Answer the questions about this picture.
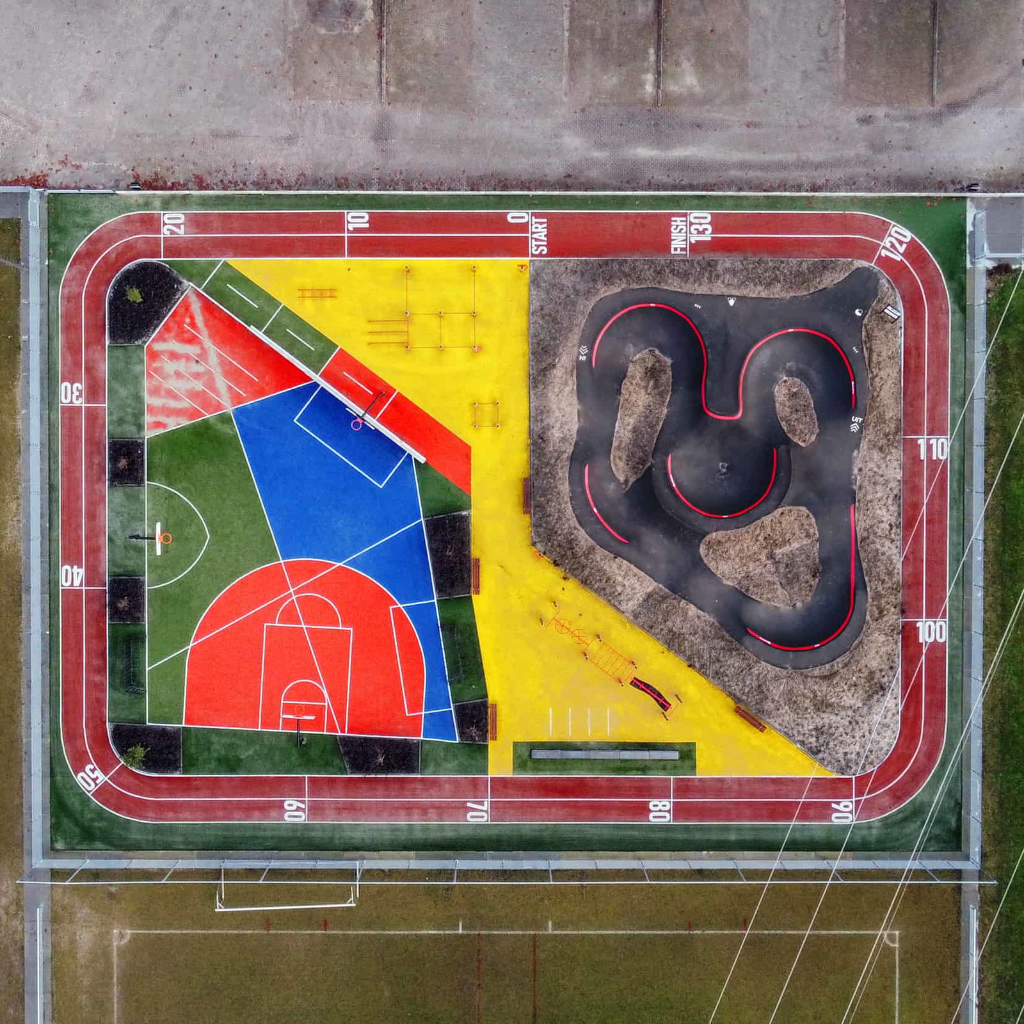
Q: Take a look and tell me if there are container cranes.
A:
No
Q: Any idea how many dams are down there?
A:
0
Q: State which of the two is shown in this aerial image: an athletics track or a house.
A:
athletics track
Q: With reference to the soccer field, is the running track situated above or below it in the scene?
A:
above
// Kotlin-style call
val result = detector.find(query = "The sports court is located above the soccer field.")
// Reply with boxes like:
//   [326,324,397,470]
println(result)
[146,284,459,743]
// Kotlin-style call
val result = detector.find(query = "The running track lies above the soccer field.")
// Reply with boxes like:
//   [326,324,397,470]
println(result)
[59,211,951,824]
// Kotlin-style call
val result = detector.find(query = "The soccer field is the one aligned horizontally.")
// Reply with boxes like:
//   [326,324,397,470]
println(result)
[51,870,961,1024]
